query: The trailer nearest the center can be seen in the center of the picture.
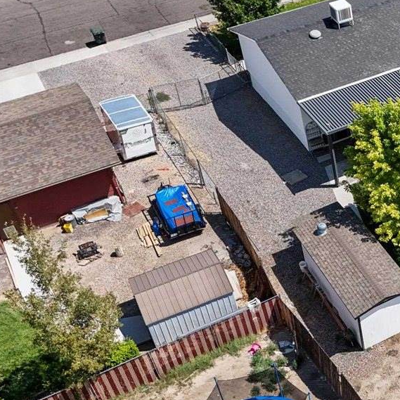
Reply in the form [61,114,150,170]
[148,179,215,244]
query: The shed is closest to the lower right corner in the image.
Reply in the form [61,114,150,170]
[288,205,400,351]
